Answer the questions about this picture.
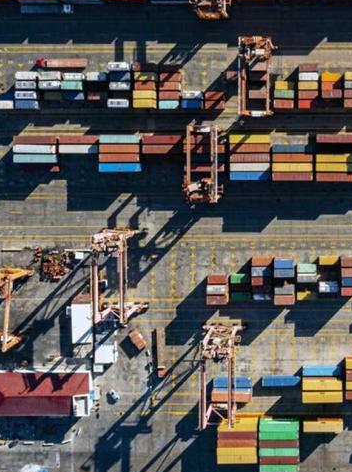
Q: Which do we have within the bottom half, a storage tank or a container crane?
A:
container crane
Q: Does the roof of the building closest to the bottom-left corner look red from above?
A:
Yes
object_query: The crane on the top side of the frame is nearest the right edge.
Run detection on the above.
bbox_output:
[227,32,284,121]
